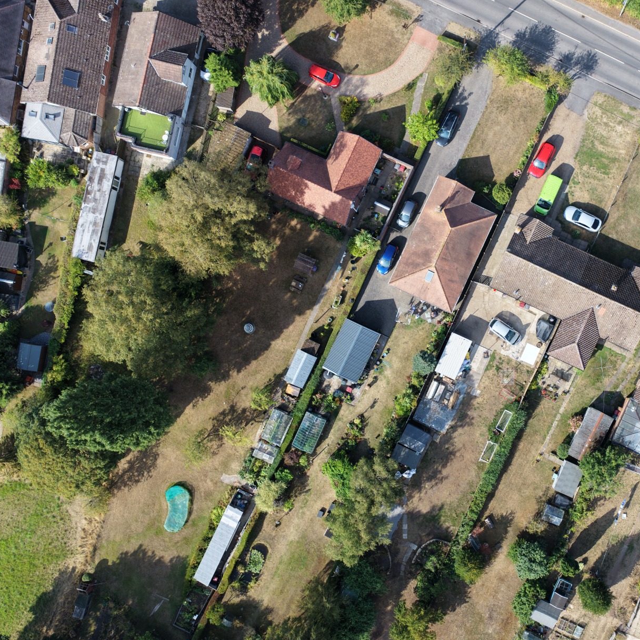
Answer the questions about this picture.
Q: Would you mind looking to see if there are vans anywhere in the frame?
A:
Yes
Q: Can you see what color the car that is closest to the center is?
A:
blue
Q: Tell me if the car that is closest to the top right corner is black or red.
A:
red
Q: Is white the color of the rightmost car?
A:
Yes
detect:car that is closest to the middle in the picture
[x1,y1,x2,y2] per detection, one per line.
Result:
[376,241,400,276]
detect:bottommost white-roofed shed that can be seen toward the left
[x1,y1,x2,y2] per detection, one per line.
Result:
[194,502,246,586]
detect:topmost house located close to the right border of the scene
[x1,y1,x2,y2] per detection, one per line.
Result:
[489,214,640,371]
